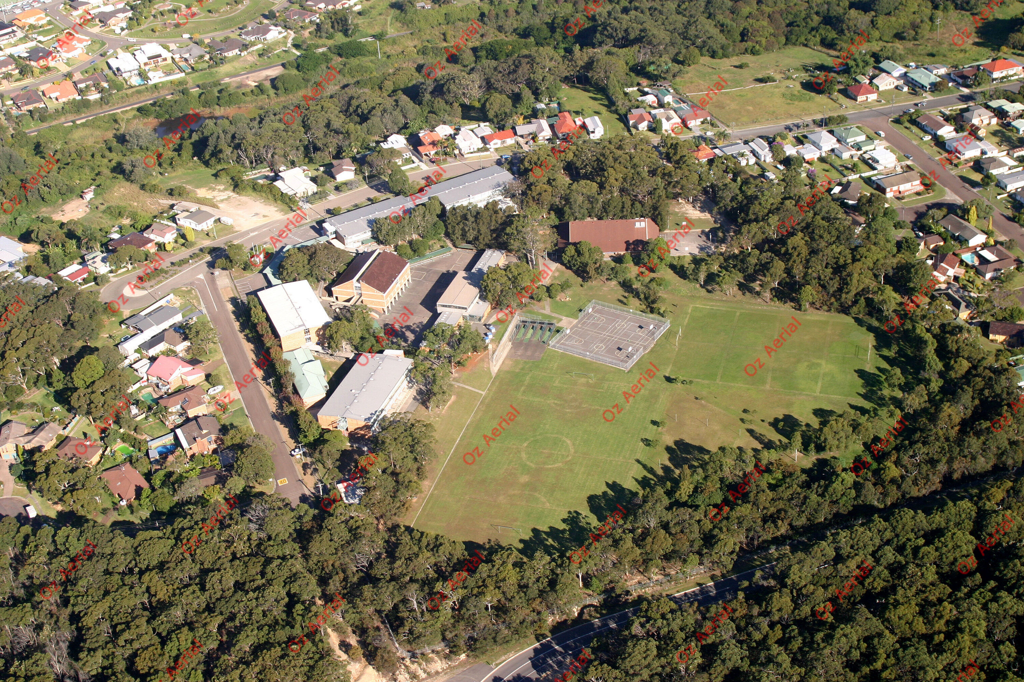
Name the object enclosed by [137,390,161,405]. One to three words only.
swimming pool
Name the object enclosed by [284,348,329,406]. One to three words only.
building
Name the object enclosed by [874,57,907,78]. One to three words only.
shed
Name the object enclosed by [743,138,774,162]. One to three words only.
house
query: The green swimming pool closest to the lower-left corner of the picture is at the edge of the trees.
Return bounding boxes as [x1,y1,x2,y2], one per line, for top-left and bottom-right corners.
[111,442,140,457]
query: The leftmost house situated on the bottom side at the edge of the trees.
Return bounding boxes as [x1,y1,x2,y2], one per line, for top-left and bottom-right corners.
[0,420,63,453]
